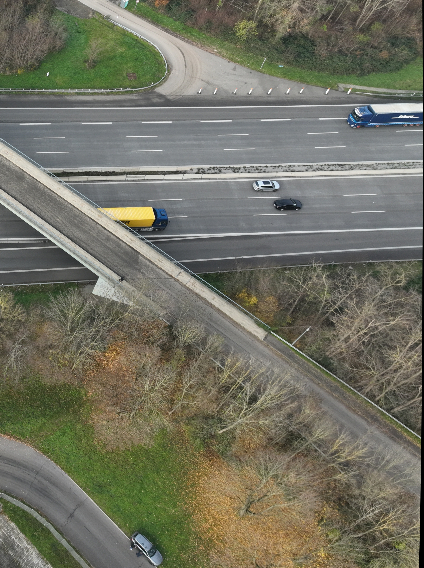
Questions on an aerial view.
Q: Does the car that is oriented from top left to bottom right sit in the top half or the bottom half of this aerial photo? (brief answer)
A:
bottom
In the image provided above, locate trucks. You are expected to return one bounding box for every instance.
[347,104,424,130]
[94,205,174,233]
